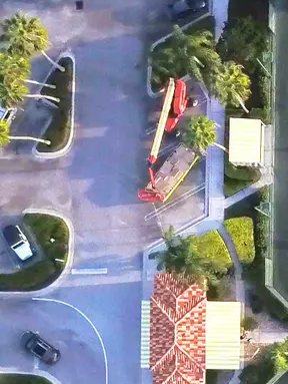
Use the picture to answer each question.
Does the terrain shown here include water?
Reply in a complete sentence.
No, there is no water in the image.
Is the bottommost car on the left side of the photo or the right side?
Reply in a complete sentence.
You can find the bottommost car on the left side of the picture.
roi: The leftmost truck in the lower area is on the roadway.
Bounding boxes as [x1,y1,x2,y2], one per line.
[0,221,38,266]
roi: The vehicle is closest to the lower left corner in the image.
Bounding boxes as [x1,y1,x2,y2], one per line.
[21,330,64,364]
